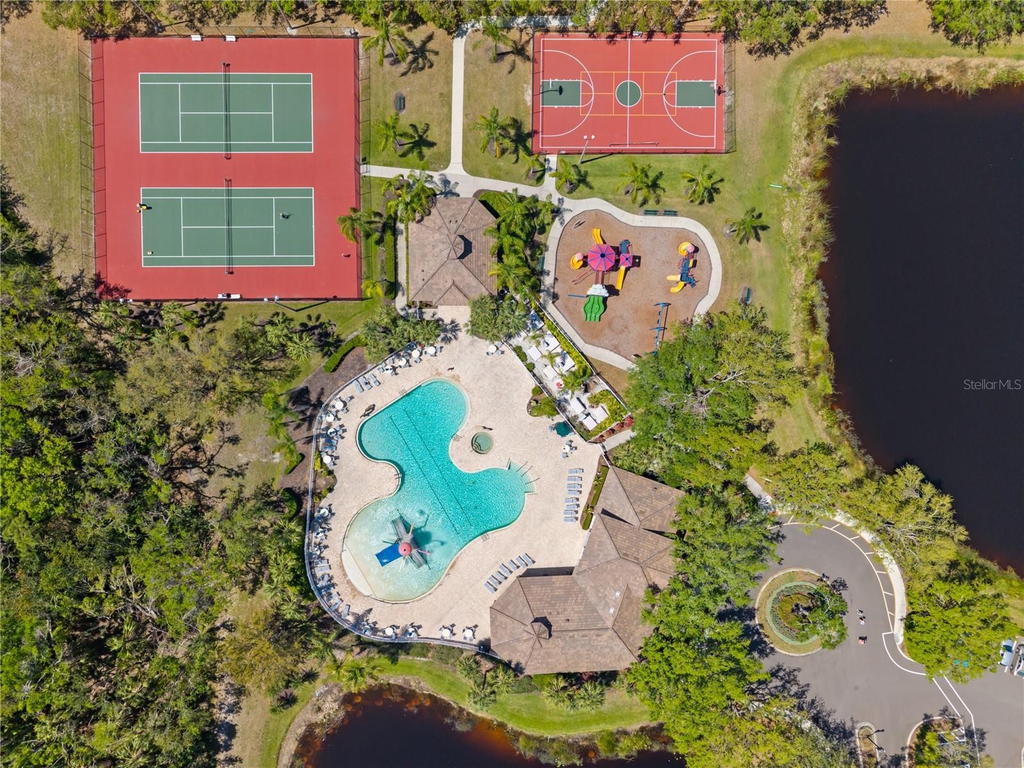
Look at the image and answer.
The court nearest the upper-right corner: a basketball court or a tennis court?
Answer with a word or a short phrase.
basketball court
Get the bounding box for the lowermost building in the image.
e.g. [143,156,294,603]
[490,466,686,675]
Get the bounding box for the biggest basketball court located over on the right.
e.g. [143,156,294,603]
[532,32,725,154]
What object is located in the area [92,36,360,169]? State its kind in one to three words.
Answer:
tennis court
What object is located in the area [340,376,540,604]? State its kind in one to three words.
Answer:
swimming pool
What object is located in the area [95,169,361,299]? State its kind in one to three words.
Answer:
tennis court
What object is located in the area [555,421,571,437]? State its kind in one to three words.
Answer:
umbrella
